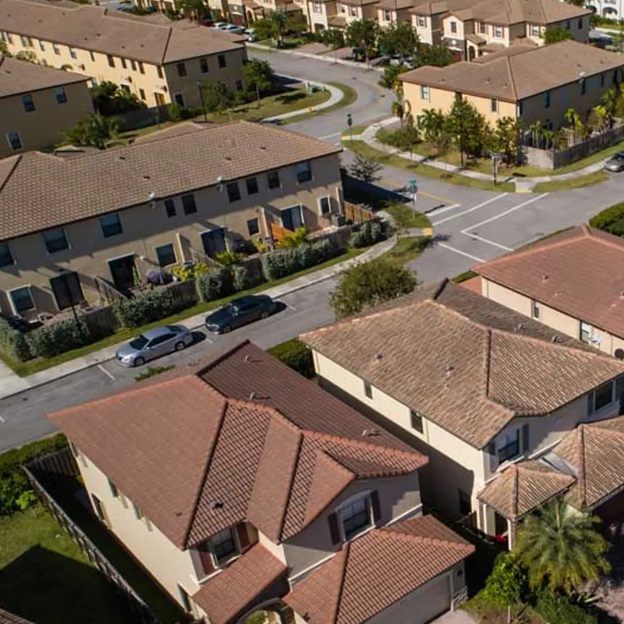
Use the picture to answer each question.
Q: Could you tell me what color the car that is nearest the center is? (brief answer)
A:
black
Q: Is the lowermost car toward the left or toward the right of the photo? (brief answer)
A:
left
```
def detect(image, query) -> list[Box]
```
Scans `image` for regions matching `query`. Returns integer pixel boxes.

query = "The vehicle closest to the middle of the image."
[204,293,277,331]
